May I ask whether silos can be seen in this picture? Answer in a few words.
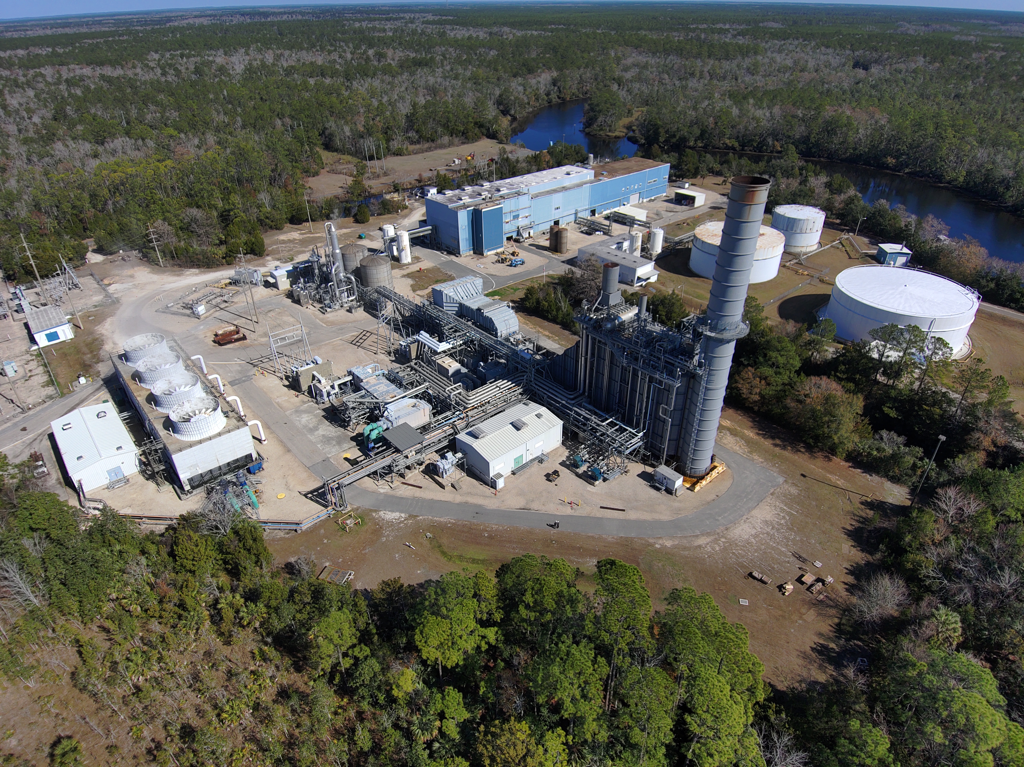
Yes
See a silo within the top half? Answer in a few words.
Yes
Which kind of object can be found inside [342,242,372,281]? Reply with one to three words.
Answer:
silo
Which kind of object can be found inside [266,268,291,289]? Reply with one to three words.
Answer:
shed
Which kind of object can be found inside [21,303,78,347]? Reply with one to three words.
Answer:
building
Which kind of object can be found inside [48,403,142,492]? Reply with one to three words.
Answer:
building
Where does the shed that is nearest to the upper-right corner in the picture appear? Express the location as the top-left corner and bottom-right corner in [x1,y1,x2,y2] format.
[877,244,913,265]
